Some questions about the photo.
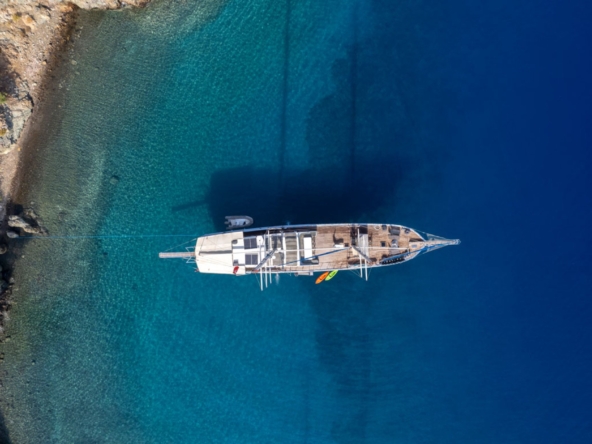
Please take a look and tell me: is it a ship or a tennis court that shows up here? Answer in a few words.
ship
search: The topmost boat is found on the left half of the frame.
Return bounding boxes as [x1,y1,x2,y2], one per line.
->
[219,214,251,229]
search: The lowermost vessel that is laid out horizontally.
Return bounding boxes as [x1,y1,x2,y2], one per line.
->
[161,223,465,289]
